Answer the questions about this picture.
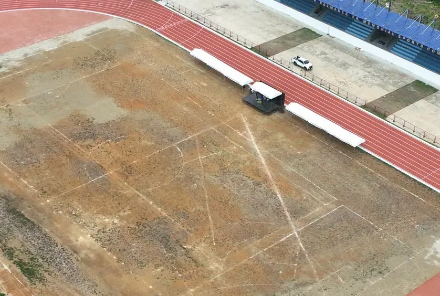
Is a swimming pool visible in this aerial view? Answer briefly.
No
